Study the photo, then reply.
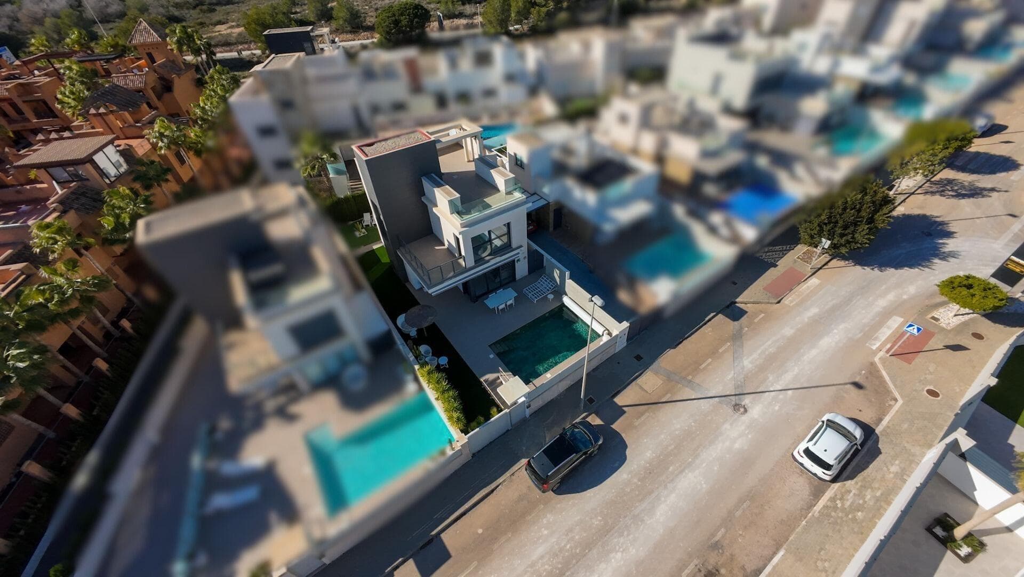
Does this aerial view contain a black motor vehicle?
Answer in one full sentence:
Yes, there's a black motor vehicle here.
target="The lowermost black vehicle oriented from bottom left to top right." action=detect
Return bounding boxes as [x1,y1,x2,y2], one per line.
[525,423,601,489]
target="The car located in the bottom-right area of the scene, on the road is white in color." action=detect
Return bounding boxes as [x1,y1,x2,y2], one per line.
[799,416,865,482]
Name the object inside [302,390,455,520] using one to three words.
swimming pool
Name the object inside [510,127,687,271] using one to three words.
house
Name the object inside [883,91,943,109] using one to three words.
swimming pool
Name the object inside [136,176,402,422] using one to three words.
house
